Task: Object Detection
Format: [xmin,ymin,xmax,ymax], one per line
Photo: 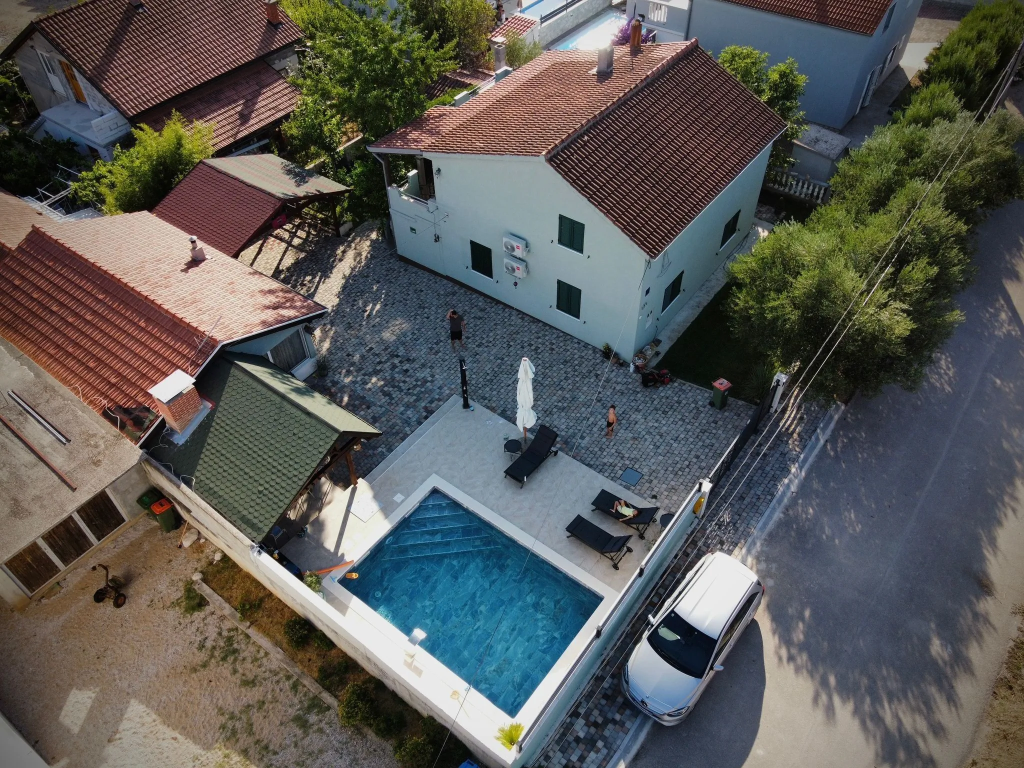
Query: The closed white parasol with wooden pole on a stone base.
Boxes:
[514,359,534,451]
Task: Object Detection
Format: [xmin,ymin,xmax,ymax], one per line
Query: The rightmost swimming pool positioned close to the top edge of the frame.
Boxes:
[542,8,629,52]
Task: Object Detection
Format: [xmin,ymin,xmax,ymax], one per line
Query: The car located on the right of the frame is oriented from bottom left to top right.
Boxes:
[616,549,758,731]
